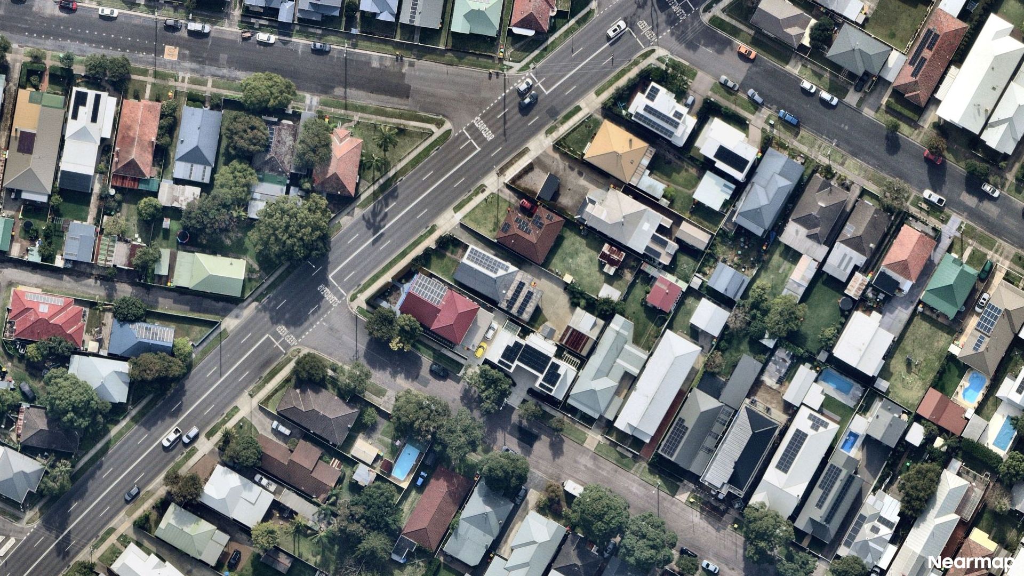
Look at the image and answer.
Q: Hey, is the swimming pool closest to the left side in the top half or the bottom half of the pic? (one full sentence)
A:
Seen from above, the swimming pool closest to the left side lies in the bottom half of the view.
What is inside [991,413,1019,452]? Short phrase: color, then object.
blue swimming pool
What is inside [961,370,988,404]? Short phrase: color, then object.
blue swimming pool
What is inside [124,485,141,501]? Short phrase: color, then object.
gray car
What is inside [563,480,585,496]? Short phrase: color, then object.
white camper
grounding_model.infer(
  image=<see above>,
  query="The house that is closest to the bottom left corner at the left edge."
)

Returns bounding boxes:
[0,446,45,503]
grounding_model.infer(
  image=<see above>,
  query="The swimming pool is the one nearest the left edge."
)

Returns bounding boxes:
[390,442,421,481]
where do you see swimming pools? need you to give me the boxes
[961,370,988,404]
[819,366,856,397]
[991,413,1019,452]
[390,442,421,481]
[840,431,862,454]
